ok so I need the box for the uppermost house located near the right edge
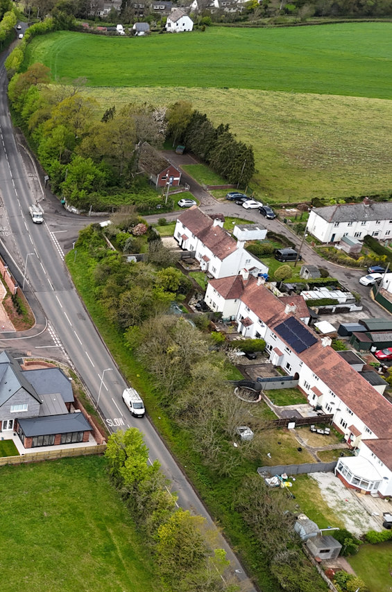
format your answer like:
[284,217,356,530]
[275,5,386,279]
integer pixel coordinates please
[306,192,392,242]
